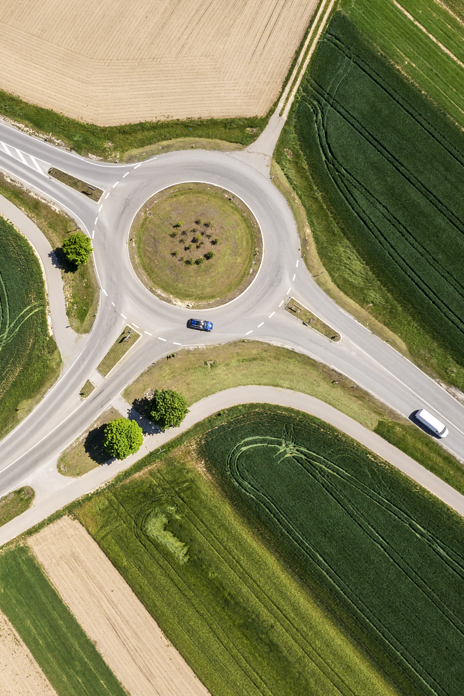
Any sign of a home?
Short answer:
No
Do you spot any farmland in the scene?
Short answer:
Yes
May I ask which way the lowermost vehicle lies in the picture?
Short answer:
diagonally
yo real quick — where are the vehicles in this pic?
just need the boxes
[189,319,213,331]
[414,409,450,436]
